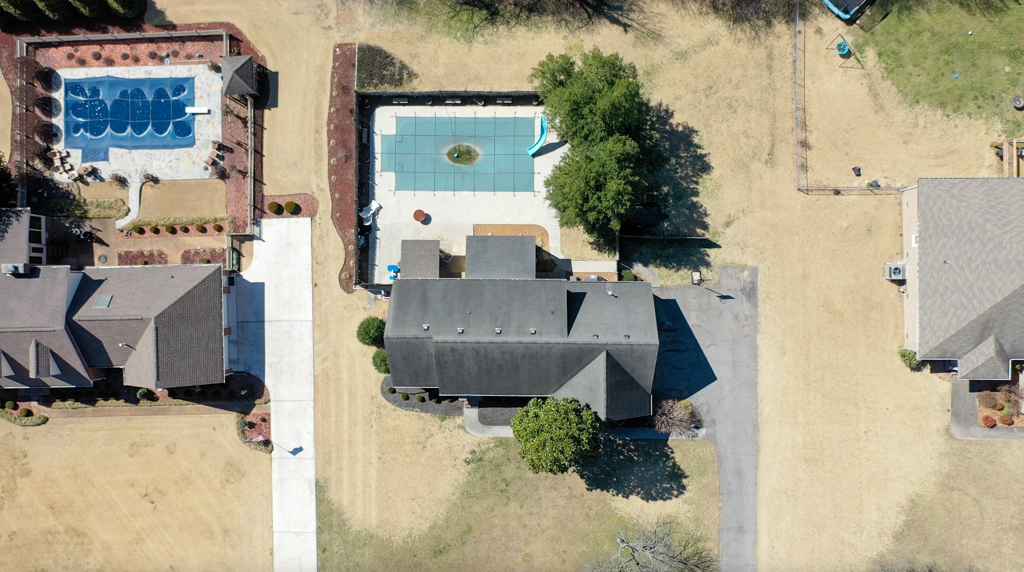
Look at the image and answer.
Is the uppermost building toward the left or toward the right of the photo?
left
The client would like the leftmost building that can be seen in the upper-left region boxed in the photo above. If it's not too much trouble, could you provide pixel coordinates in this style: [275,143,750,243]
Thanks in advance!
[222,55,261,98]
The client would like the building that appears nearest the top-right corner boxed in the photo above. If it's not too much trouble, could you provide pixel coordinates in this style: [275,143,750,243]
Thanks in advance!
[903,177,1024,381]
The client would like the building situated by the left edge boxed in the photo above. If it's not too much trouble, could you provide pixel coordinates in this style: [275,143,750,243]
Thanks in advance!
[0,206,233,397]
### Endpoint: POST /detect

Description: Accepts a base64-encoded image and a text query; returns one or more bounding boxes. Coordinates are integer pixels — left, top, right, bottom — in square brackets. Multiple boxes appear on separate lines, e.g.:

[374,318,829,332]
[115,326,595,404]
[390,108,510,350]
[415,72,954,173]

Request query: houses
[0,206,233,397]
[903,177,1024,381]
[384,278,660,422]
